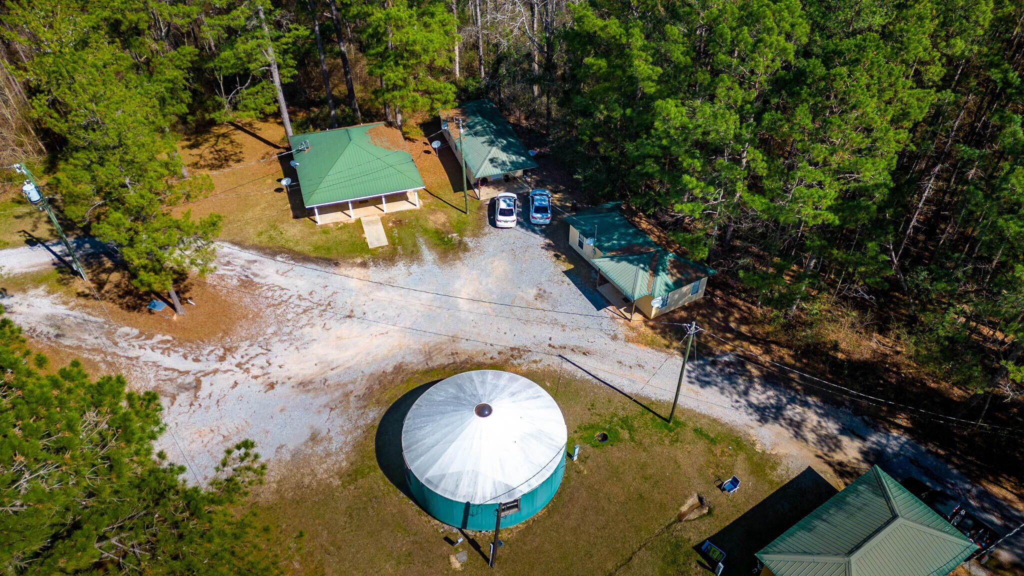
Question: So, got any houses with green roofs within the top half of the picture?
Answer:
Yes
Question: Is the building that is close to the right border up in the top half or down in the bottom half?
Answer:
bottom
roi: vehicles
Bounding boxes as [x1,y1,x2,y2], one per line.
[528,187,554,224]
[493,191,519,228]
[904,480,1024,576]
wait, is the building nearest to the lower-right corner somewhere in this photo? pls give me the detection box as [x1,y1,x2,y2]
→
[754,463,980,576]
